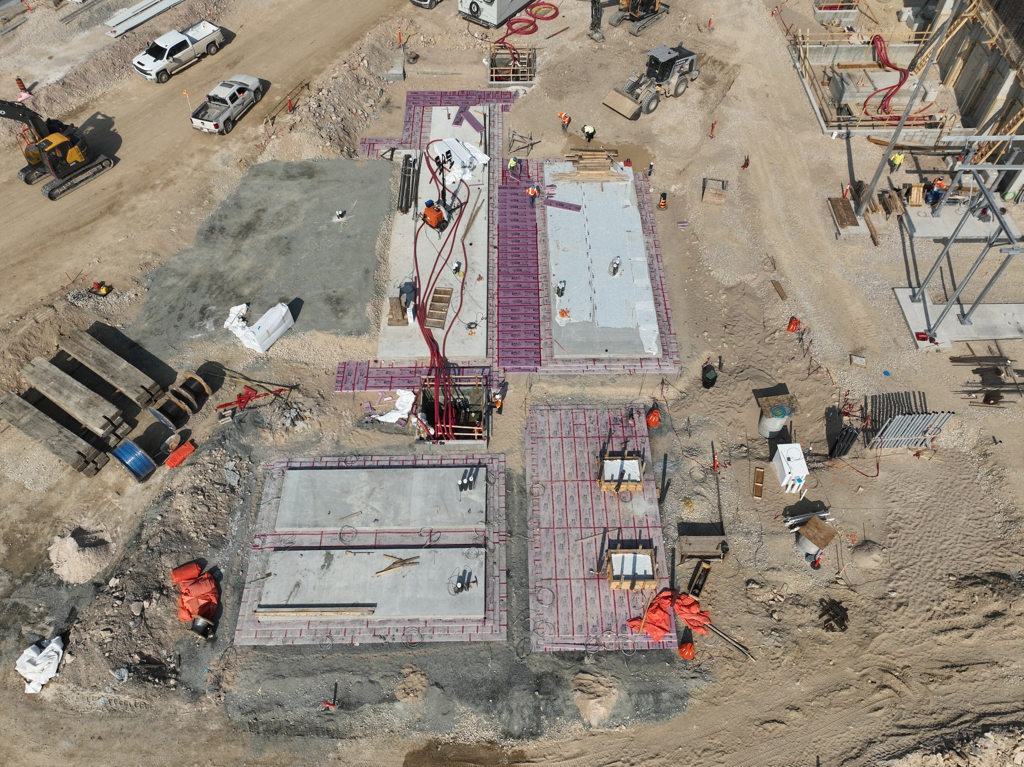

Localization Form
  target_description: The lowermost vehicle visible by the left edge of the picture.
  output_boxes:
[0,111,112,200]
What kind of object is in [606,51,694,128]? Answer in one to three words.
work vehicle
